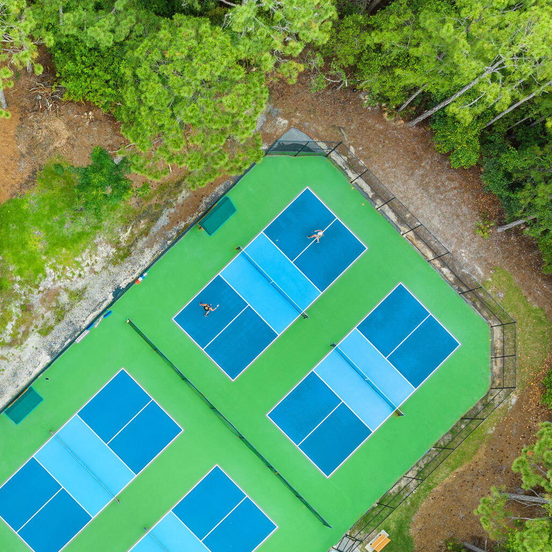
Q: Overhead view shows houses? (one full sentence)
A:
No, the picture doesn't show any house.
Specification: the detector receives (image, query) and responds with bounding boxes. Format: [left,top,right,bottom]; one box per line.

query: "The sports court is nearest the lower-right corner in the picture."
[265,281,463,480]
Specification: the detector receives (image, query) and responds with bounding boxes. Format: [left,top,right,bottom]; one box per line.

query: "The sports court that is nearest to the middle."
[170,185,369,382]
